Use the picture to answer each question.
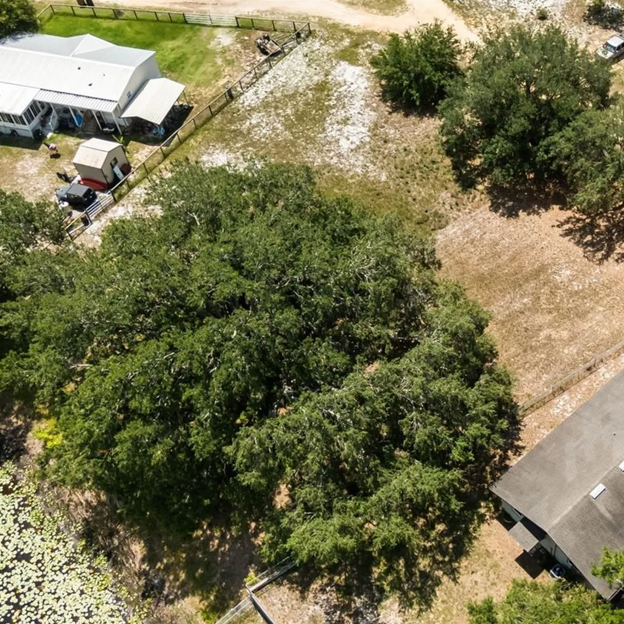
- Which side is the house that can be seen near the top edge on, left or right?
left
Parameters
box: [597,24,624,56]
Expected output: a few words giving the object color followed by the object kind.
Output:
white truck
